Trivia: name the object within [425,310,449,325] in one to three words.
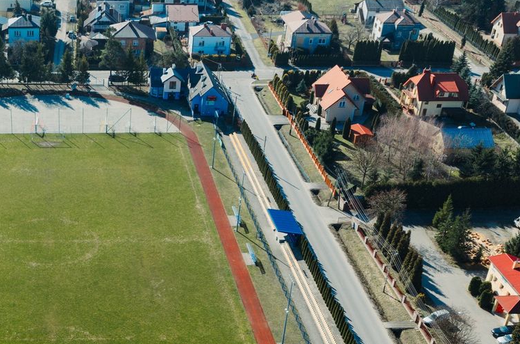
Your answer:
car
